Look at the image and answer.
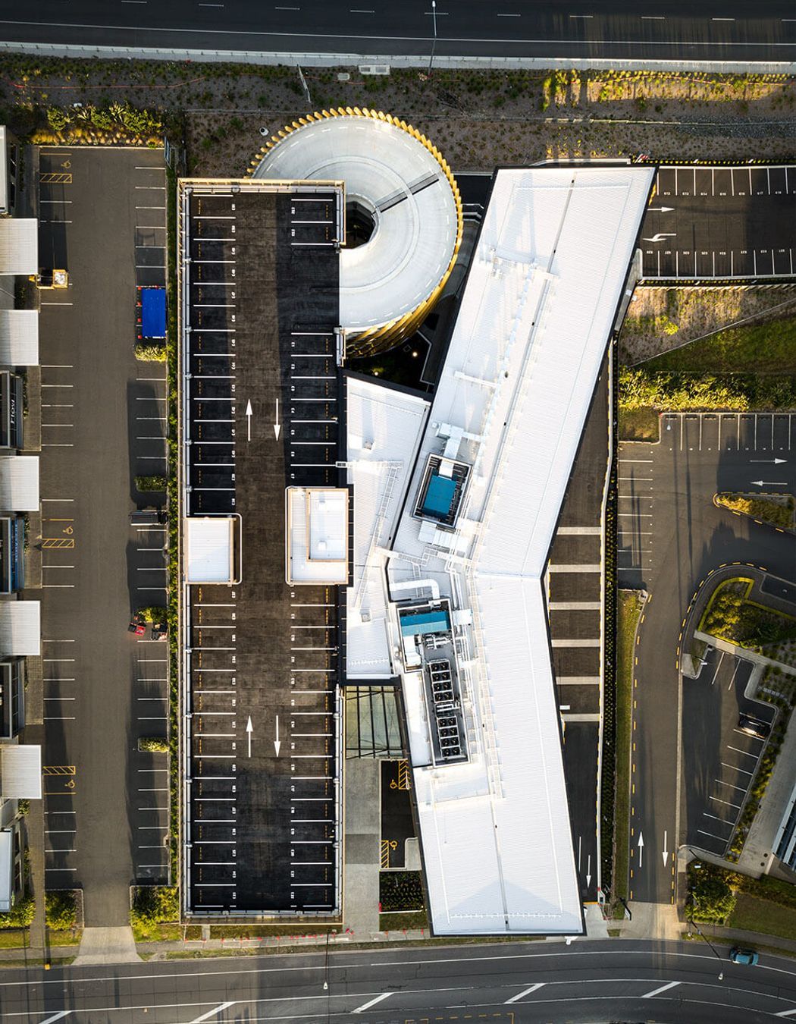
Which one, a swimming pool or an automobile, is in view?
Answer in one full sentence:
The image shows an automobile.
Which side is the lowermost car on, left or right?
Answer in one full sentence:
The lowermost car is on the right side of the image.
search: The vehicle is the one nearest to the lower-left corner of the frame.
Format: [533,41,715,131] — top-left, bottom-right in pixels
[129,511,170,526]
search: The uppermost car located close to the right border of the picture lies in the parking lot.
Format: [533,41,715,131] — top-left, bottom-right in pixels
[735,713,771,735]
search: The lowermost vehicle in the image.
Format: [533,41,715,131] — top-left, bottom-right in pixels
[726,946,758,967]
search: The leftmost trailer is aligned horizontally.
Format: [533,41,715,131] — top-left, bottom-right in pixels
[29,269,73,290]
